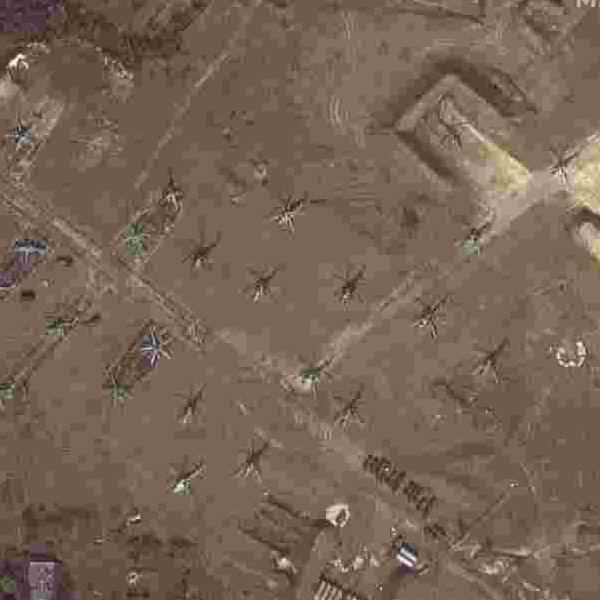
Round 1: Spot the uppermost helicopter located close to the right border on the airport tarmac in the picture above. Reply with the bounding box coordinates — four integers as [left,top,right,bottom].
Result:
[545,153,579,182]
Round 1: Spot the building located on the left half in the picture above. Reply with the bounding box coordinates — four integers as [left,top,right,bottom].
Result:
[29,561,58,600]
